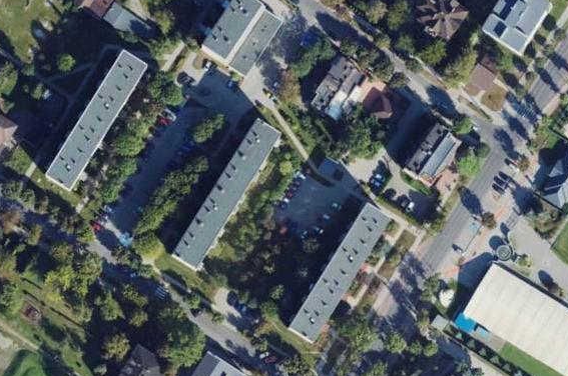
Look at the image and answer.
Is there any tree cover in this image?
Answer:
Yes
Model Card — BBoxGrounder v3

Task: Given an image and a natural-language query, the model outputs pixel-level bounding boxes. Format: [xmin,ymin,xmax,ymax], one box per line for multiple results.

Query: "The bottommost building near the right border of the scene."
[455,263,568,376]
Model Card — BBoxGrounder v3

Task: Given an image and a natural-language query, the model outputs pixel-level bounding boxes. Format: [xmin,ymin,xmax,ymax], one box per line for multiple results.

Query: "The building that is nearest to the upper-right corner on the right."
[481,0,553,58]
